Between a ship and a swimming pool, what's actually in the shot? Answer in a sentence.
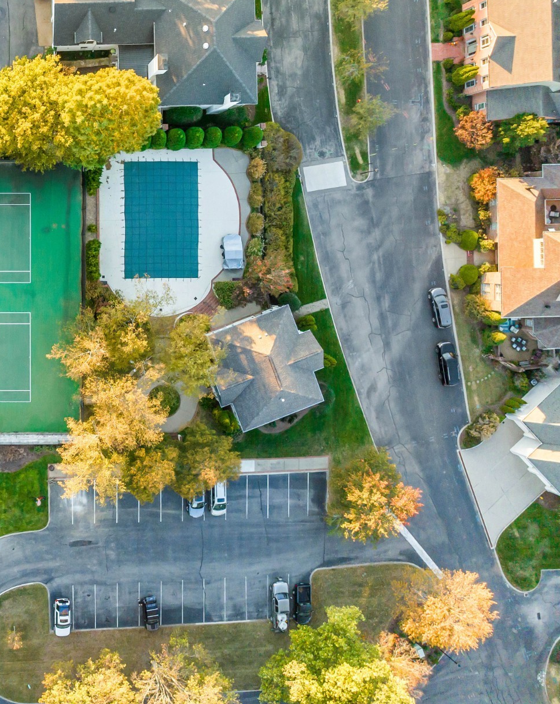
There is a swimming pool in the scene.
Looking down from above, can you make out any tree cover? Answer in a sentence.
Yes, tree cover can be seen from above here.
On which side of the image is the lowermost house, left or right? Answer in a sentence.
The lowermost house appears in the right half of the scene.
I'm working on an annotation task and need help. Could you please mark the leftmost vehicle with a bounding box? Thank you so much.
[53,596,72,637]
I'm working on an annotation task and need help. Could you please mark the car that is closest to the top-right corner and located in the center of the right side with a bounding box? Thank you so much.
[429,288,456,329]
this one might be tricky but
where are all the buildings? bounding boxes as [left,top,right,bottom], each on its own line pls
[456,0,560,122]
[499,377,560,499]
[52,0,268,116]
[204,302,325,433]
[464,163,560,350]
